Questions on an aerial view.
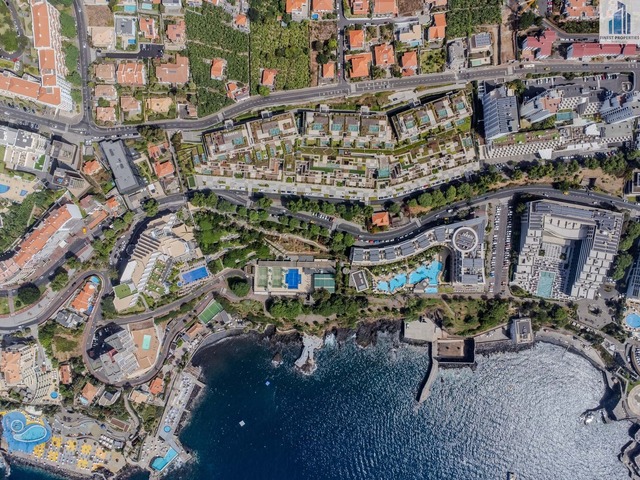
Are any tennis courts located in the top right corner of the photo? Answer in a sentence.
No, there's no tennis court to be seen in the top right corner of the photo.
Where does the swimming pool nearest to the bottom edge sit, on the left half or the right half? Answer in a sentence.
It is on the left.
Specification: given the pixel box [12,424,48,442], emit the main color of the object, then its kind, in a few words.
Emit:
blue swimming pool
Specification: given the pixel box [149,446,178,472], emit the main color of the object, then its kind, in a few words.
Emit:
blue swimming pool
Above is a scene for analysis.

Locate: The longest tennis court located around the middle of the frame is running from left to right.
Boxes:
[254,266,311,292]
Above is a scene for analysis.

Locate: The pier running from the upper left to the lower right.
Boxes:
[170,434,193,462]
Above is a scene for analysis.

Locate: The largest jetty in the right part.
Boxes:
[416,359,438,401]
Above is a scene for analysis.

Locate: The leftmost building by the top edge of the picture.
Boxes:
[0,0,76,115]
